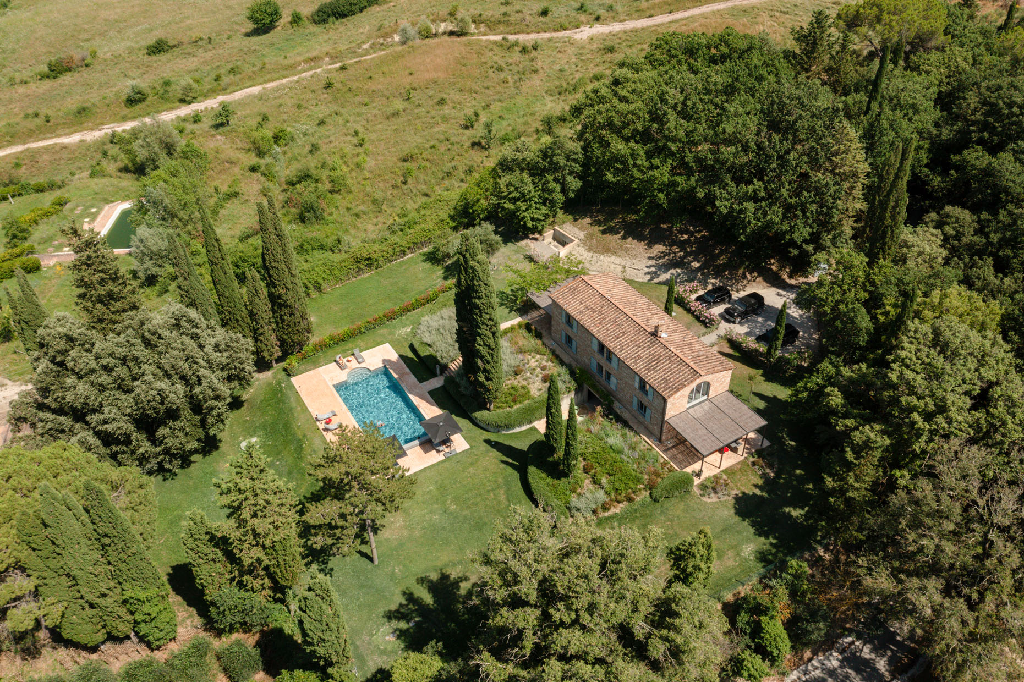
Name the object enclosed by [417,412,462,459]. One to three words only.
umbrella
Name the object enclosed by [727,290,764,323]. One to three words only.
car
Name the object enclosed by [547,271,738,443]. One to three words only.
house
